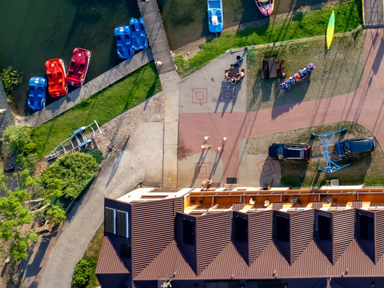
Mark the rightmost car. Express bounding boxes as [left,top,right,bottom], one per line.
[334,134,377,161]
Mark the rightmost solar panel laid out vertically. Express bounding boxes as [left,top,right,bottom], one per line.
[358,211,372,243]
